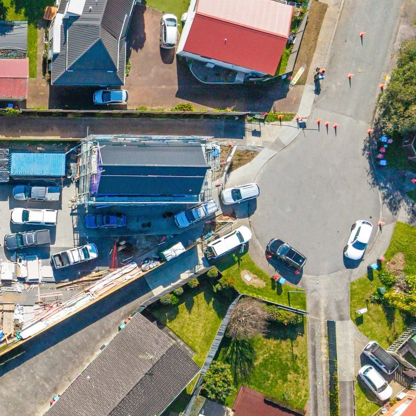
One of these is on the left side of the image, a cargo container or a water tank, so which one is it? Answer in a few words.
cargo container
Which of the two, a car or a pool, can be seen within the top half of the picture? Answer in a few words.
car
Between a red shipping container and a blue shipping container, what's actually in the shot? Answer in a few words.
blue shipping container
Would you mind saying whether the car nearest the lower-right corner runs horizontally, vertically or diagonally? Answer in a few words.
diagonally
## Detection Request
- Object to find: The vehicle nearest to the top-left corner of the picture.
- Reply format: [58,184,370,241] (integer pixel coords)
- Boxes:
[92,87,129,106]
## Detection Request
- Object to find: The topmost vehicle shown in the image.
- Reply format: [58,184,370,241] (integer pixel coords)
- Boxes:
[158,13,180,49]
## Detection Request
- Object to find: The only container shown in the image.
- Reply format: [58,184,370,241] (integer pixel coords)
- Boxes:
[7,153,67,178]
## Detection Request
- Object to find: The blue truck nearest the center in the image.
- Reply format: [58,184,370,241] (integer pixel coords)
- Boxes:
[171,196,222,229]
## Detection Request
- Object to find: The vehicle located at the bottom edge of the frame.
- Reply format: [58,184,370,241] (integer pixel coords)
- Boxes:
[357,363,395,402]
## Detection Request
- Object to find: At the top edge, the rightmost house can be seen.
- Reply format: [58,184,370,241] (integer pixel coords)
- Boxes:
[177,0,295,79]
